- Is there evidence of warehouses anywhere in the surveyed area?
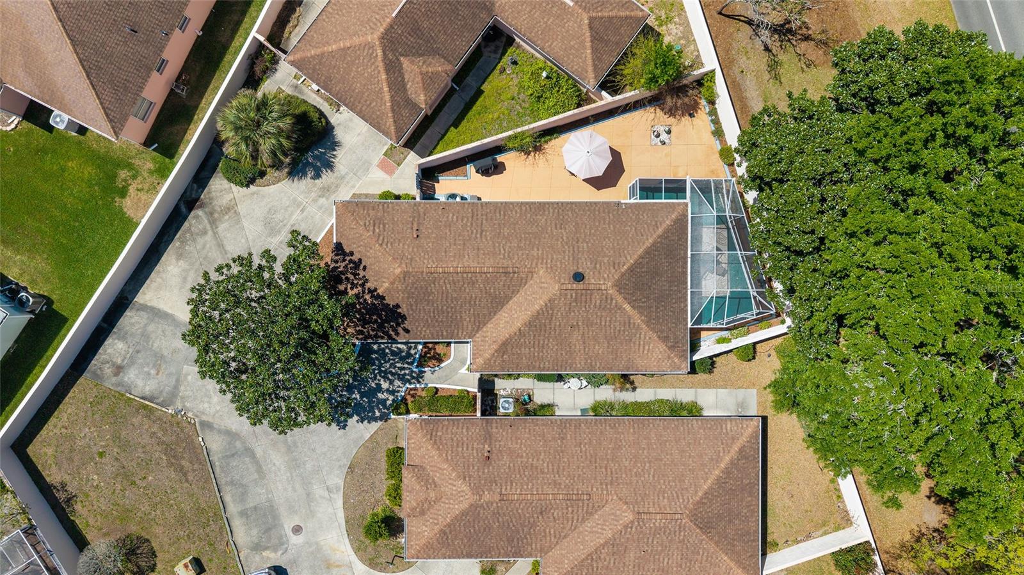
No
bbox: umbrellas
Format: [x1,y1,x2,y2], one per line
[562,130,612,181]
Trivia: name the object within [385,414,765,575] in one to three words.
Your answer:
house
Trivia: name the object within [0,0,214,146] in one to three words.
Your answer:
house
